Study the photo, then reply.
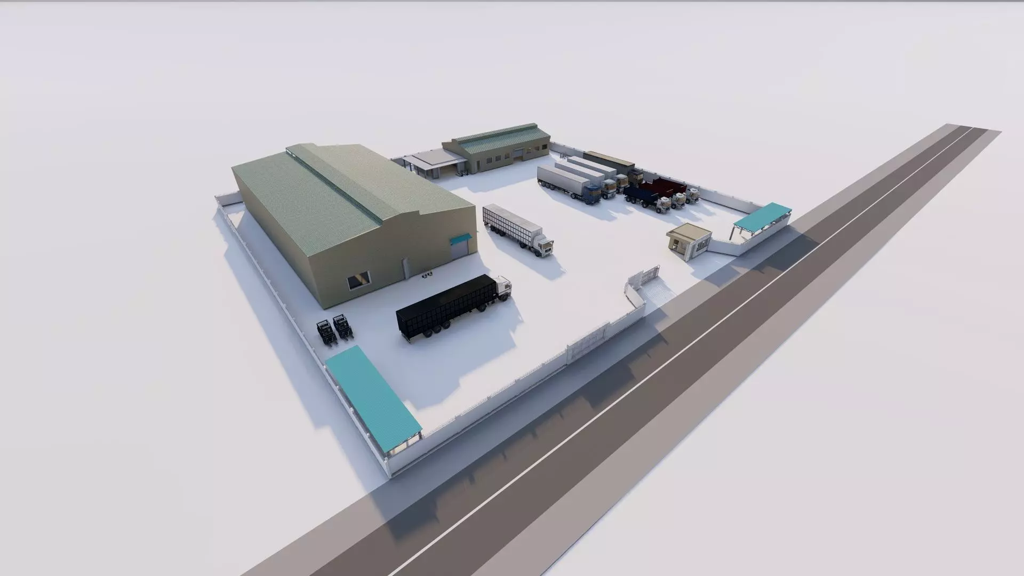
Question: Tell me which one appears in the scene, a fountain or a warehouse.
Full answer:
It is a warehouse that can be seen here.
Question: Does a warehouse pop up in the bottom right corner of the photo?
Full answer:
No, I can find no warehouse in the bottom right corner of the photo.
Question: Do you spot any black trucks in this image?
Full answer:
Yes, this view includes a black truck.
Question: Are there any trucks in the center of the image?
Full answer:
Yes, I can see a truck in the center of the image.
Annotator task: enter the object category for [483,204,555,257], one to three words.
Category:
truck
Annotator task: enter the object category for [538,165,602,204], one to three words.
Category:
truck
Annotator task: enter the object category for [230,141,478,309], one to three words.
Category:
warehouse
